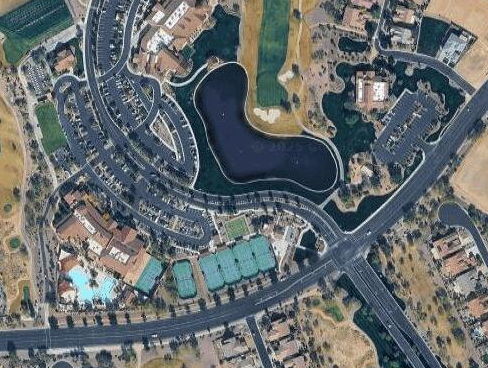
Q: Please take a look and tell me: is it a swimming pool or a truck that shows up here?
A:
swimming pool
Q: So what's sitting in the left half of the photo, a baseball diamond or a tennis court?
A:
tennis court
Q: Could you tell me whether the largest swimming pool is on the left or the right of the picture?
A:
left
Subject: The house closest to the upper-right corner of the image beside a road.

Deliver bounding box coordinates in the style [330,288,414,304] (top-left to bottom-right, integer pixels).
[440,29,470,62]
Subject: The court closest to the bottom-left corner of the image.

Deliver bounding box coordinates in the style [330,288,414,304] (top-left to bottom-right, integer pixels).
[138,258,162,294]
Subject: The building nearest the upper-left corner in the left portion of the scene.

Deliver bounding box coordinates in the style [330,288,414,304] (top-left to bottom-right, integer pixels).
[52,47,75,73]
